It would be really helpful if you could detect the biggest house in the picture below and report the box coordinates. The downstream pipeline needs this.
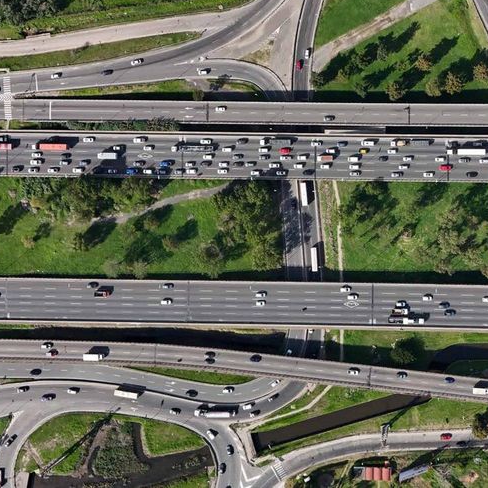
[365,468,392,486]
